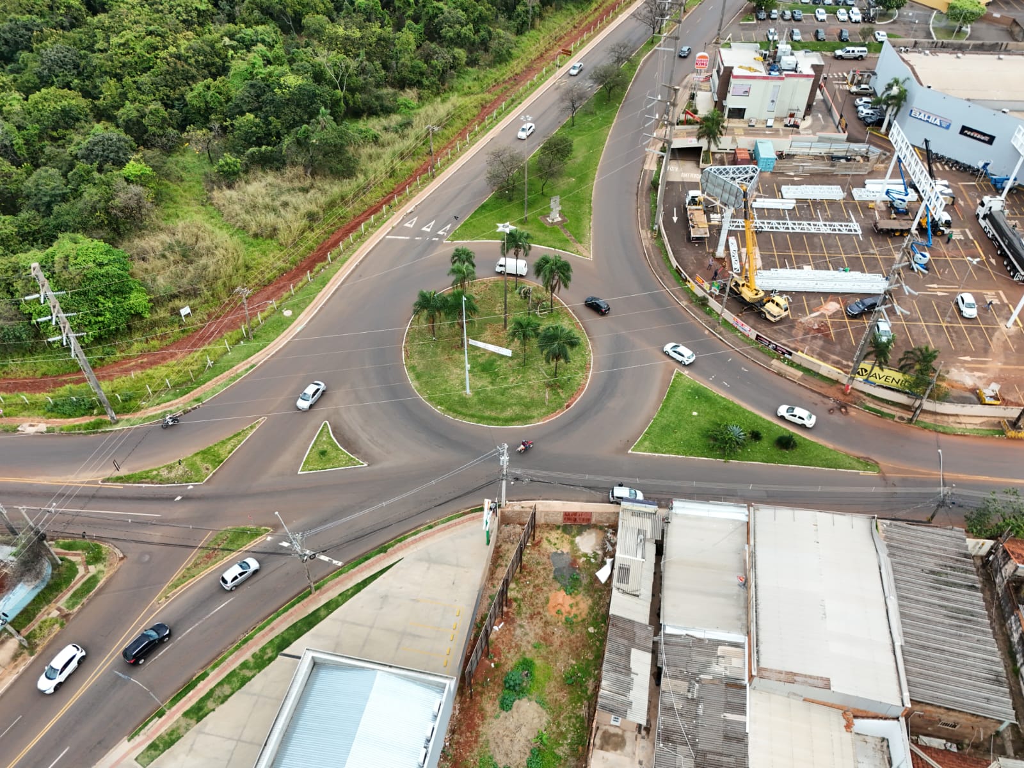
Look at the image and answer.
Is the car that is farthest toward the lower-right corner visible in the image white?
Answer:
Yes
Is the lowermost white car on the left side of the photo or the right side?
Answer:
left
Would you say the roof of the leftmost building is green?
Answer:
No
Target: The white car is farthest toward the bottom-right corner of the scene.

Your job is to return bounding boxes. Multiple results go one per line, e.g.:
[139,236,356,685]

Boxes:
[778,404,819,429]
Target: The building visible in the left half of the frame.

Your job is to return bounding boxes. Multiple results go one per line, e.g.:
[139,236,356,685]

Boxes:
[252,648,457,768]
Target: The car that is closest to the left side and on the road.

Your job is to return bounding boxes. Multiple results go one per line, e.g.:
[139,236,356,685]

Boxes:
[32,642,85,693]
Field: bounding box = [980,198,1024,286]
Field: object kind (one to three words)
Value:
truck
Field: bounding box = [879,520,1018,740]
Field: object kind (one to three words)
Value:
shed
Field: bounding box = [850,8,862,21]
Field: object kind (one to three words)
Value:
vehicle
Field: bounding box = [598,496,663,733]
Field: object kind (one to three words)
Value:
house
